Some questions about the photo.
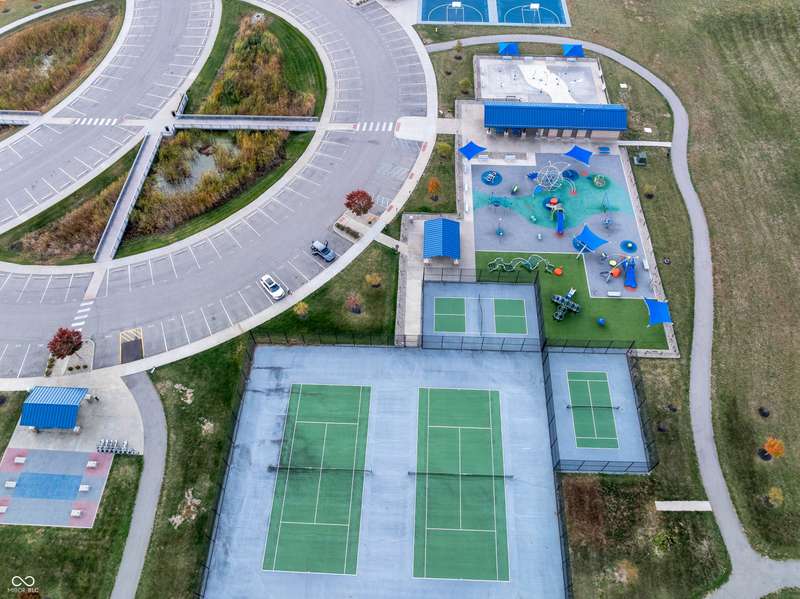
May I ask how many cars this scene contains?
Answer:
2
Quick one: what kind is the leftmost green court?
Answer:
tennis court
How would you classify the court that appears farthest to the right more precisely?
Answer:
tennis court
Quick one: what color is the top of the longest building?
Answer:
blue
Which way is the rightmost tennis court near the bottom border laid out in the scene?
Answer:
from top to bottom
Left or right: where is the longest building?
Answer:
right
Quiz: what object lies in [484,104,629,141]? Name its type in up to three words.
building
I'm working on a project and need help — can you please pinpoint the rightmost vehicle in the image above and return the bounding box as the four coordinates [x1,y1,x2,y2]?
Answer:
[303,238,336,262]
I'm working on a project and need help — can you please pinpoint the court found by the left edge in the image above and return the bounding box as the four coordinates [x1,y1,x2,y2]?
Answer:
[0,448,114,527]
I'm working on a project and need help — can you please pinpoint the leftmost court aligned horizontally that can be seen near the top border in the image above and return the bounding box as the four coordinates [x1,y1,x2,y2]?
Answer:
[422,0,488,23]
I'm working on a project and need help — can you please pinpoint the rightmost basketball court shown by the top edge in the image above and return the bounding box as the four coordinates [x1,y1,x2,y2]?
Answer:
[498,0,566,25]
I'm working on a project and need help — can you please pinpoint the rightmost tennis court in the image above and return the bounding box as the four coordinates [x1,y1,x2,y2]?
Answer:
[566,370,620,449]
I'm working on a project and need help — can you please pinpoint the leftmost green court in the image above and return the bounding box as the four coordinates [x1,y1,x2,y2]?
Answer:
[262,383,373,575]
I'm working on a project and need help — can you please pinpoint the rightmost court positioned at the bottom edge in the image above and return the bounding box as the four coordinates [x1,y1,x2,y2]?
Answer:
[408,387,513,582]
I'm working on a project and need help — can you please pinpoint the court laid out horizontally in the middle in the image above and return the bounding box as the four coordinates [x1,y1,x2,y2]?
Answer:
[434,291,528,336]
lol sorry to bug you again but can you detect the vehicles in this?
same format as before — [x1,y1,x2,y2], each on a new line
[303,238,336,262]
[261,274,287,302]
